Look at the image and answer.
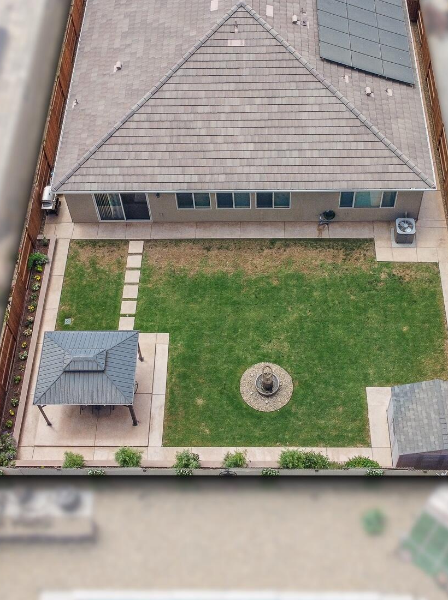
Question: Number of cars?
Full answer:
No cars are visible.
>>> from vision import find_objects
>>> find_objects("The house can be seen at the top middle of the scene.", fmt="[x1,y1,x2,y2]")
[49,0,438,223]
